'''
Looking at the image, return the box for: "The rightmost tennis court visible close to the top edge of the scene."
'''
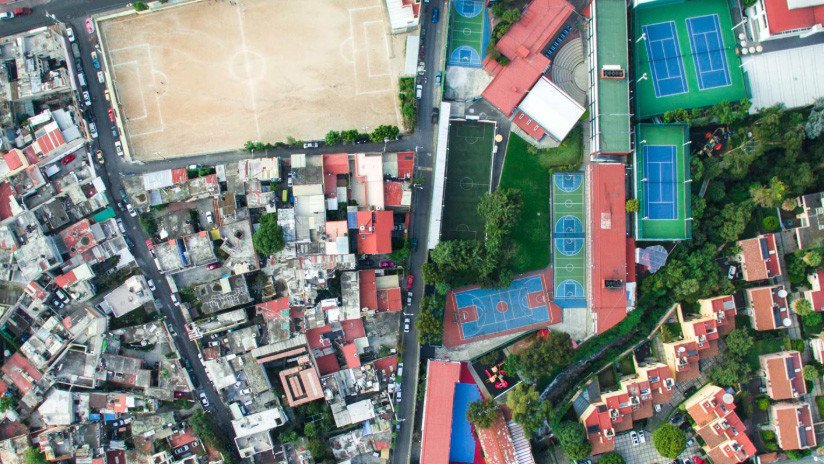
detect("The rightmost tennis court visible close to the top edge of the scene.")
[682,0,740,110]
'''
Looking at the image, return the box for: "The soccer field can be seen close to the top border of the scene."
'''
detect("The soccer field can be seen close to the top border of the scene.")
[101,0,407,162]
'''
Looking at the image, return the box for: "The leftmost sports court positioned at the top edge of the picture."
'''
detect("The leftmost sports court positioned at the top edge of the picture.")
[447,0,492,67]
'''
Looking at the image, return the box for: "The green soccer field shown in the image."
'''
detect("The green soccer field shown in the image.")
[441,121,496,245]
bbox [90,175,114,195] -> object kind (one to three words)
house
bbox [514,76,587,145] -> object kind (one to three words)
building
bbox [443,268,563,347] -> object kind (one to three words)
basketball court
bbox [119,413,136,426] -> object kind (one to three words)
vehicle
